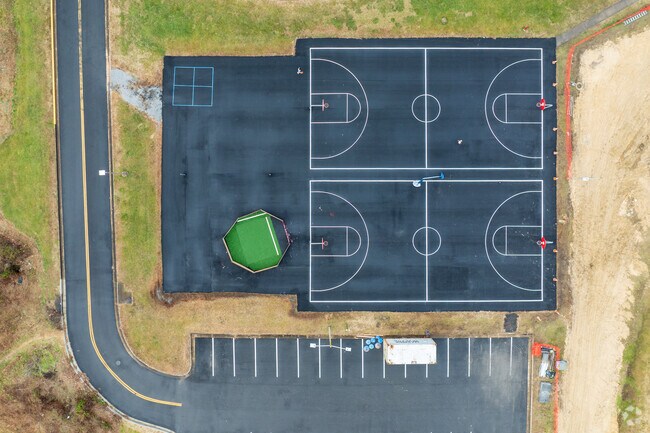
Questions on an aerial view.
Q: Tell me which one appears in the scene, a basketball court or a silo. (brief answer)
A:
basketball court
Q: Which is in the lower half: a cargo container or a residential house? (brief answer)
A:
cargo container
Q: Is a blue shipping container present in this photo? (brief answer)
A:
No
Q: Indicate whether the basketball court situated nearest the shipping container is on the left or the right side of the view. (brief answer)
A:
right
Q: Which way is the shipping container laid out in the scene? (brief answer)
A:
from left to right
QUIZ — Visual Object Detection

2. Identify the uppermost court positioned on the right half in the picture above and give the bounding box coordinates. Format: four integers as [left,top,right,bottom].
[310,48,543,169]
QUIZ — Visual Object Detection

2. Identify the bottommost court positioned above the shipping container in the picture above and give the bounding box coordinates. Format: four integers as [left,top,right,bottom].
[310,180,543,302]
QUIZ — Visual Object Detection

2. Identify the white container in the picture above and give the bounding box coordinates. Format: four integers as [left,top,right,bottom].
[384,337,437,364]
